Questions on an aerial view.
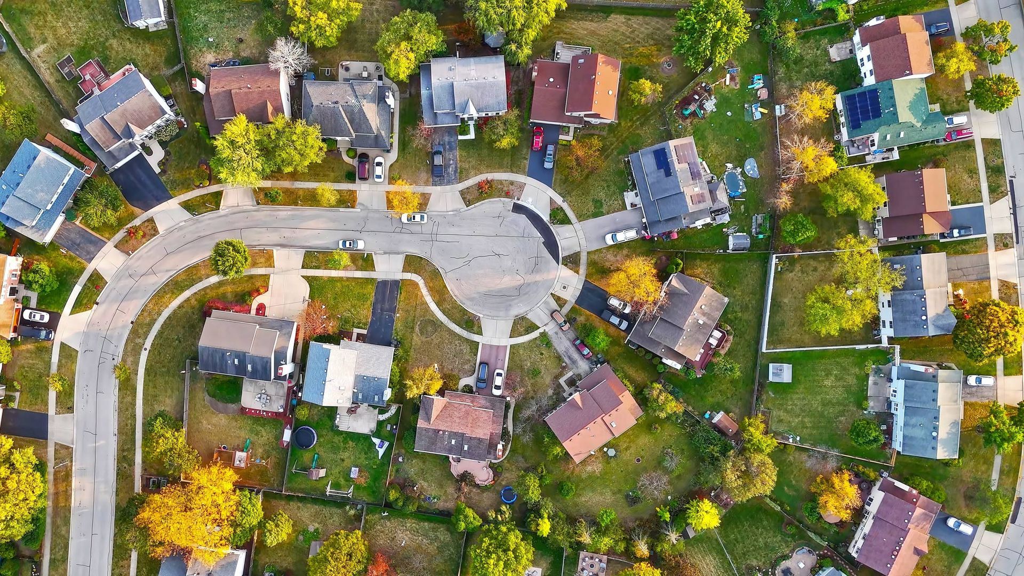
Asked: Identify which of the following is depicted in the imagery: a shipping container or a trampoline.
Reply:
trampoline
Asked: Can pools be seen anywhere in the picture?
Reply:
Yes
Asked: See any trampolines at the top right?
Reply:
No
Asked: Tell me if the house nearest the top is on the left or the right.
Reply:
left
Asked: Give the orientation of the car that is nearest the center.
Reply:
at an angle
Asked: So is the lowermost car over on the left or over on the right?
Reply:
right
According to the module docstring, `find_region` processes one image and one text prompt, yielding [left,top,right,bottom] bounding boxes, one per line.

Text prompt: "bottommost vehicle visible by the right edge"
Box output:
[944,515,975,537]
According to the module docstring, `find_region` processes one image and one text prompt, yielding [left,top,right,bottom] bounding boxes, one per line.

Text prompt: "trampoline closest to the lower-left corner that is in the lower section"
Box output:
[291,425,318,451]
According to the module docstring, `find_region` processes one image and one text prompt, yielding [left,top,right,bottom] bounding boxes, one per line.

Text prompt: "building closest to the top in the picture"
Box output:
[124,0,168,29]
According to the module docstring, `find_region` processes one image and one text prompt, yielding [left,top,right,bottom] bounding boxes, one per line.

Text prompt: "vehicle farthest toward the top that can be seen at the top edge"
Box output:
[926,22,951,35]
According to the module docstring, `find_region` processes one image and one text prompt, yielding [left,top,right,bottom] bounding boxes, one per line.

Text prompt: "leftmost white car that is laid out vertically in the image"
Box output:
[373,156,385,182]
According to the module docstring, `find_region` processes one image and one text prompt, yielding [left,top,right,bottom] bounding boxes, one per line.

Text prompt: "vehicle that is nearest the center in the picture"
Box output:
[549,307,571,332]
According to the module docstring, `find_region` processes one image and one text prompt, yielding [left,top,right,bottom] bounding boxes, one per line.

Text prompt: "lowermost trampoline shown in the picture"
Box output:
[501,487,517,503]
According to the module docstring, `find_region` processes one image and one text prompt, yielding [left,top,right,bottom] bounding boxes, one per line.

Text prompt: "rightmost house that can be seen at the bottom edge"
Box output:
[846,478,941,576]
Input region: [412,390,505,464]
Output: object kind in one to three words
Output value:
house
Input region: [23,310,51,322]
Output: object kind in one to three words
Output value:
vehicle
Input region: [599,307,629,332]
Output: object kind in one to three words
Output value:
truck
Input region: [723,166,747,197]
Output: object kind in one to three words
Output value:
swimming pool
